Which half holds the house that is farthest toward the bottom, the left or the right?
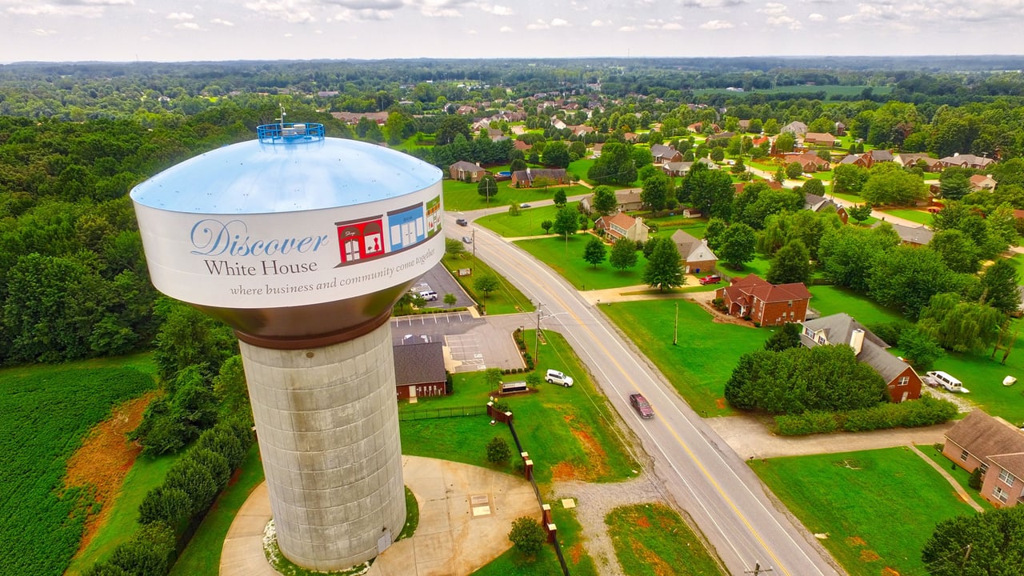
right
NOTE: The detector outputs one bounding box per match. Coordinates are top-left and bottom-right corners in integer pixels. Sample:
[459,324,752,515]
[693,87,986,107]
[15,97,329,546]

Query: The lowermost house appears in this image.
[940,403,1024,512]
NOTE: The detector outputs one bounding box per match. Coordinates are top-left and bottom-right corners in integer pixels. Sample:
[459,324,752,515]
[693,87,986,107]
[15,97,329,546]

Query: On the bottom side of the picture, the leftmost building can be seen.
[395,329,450,400]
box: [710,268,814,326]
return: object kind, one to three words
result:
house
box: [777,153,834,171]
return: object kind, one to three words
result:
house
